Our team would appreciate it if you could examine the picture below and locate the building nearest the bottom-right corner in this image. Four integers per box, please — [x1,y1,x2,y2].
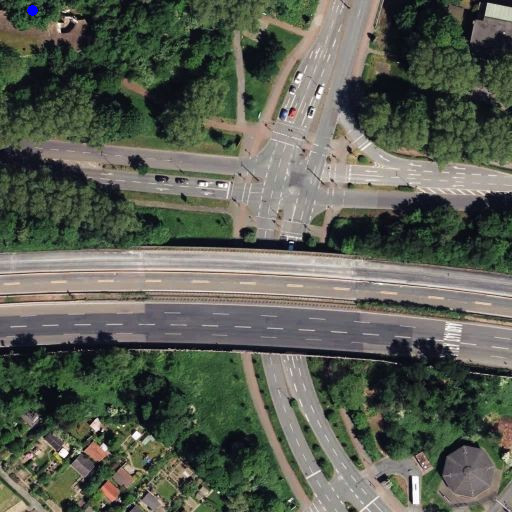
[442,444,494,496]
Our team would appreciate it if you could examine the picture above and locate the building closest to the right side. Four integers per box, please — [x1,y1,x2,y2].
[475,7,512,46]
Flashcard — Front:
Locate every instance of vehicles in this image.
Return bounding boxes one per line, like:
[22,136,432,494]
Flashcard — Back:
[290,84,296,94]
[197,180,208,186]
[316,84,324,98]
[294,71,302,84]
[290,107,296,118]
[280,108,287,120]
[176,178,188,184]
[308,106,315,118]
[216,182,228,188]
[288,242,294,251]
[156,176,168,182]
[412,475,420,504]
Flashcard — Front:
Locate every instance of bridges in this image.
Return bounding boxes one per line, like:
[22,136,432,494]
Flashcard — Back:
[0,248,512,380]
